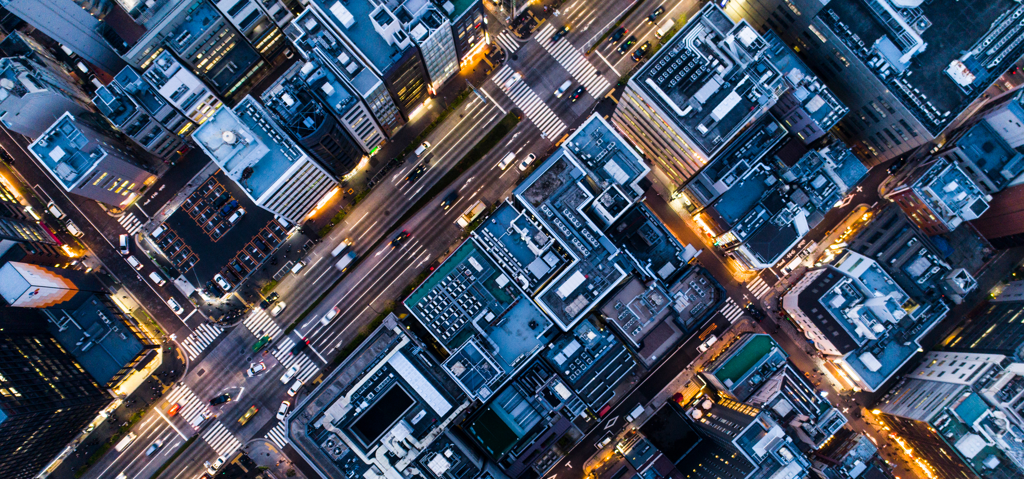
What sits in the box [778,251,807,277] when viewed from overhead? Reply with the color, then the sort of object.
white truck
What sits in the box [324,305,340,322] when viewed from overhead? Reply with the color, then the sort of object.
white car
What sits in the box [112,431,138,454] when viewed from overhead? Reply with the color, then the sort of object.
white vehicle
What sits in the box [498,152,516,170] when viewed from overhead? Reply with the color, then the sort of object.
white car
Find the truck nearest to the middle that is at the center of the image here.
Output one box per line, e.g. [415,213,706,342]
[458,200,485,227]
